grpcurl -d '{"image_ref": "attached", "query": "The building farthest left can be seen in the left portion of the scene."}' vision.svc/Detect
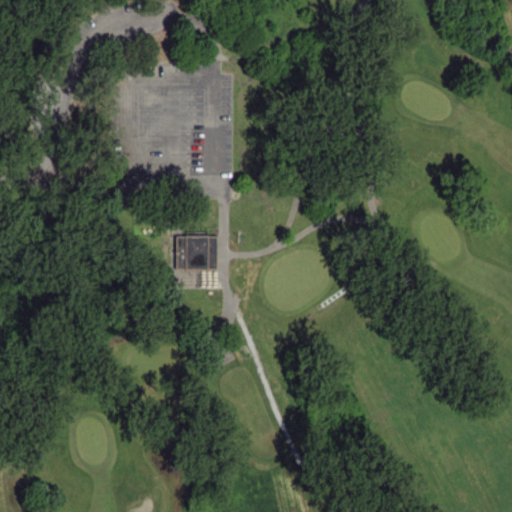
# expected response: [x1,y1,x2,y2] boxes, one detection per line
[176,236,218,270]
